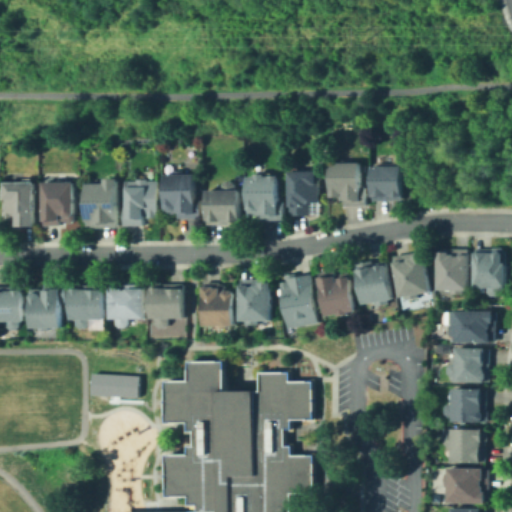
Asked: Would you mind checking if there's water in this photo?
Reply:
No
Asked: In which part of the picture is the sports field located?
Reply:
bottom left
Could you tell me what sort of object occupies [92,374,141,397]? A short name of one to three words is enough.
shed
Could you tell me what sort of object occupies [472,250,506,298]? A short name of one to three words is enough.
house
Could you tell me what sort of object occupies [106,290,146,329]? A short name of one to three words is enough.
house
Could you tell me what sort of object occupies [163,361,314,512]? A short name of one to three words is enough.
building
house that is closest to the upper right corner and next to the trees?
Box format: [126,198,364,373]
[366,166,401,201]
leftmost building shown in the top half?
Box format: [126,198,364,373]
[1,182,36,226]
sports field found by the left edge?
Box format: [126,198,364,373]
[0,354,84,444]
